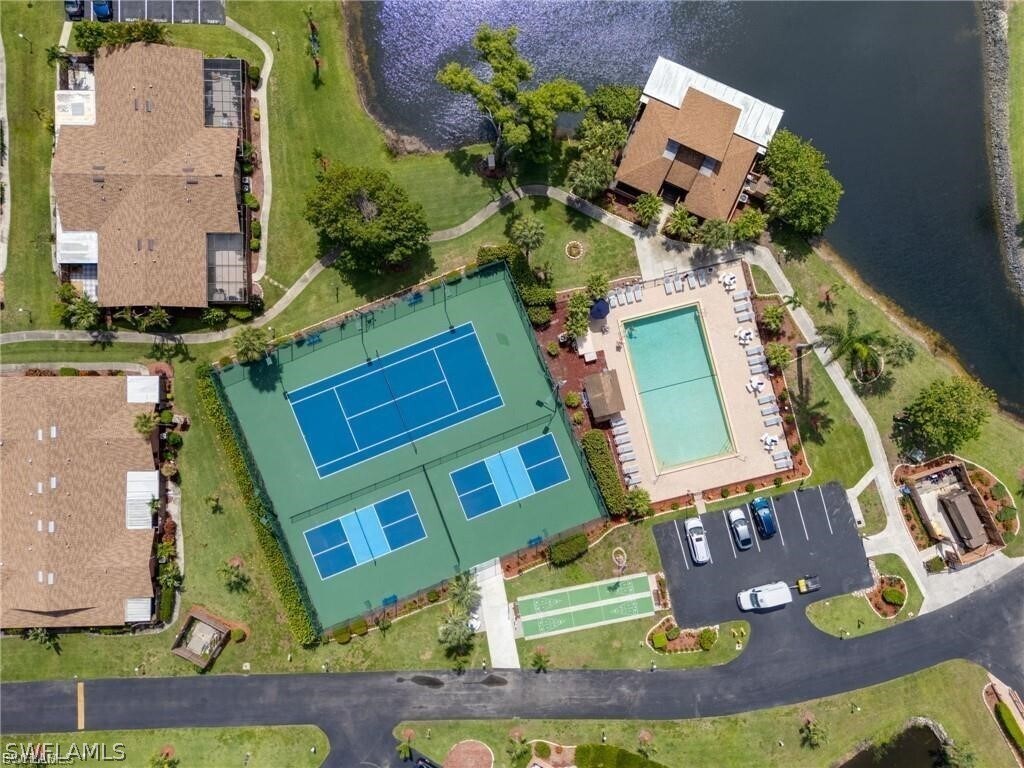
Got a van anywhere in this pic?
Yes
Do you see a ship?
No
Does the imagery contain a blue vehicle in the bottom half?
Yes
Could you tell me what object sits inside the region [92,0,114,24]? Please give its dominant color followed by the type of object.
blue car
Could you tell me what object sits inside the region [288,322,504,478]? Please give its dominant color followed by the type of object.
blue tennis court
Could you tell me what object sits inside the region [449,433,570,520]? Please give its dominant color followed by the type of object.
blue sports court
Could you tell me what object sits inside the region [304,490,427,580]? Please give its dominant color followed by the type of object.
blue sports court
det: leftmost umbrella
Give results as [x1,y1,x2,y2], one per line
[590,300,609,319]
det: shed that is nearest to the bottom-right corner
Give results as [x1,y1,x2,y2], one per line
[932,491,989,549]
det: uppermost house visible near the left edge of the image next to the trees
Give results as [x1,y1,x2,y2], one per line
[50,43,254,307]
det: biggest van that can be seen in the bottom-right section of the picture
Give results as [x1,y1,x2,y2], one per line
[735,583,793,612]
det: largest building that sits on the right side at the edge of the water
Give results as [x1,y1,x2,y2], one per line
[614,57,782,224]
